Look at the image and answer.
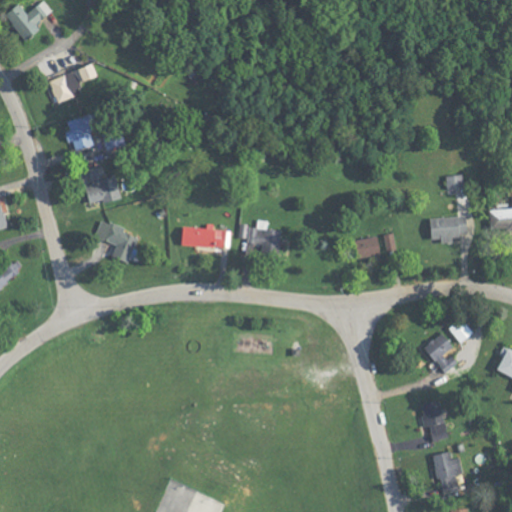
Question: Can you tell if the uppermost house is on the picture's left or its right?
left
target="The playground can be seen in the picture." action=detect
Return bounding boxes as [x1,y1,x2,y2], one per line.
[234,336,273,354]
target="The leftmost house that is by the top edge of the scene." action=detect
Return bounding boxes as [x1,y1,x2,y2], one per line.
[7,0,52,40]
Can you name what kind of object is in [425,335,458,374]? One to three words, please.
house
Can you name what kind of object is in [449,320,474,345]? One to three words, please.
building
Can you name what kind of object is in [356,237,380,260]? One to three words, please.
house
